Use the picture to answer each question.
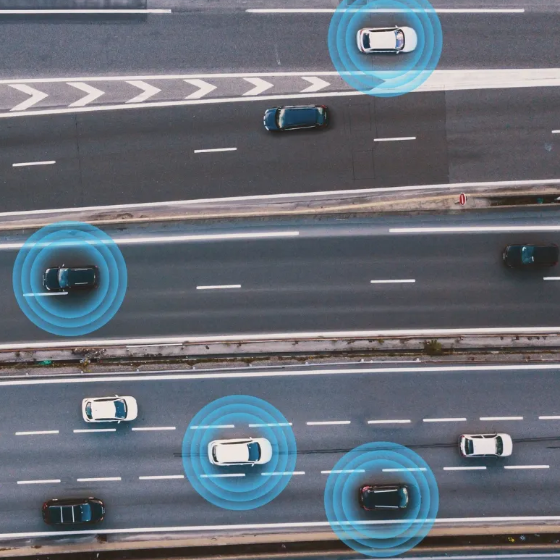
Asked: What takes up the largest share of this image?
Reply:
paved ground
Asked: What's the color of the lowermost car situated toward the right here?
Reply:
black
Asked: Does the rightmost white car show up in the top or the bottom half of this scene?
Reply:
bottom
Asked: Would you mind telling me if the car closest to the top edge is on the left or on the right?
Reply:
right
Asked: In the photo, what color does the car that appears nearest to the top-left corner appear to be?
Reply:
black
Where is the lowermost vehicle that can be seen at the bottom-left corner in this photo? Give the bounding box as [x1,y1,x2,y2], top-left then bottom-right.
[42,495,104,527]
